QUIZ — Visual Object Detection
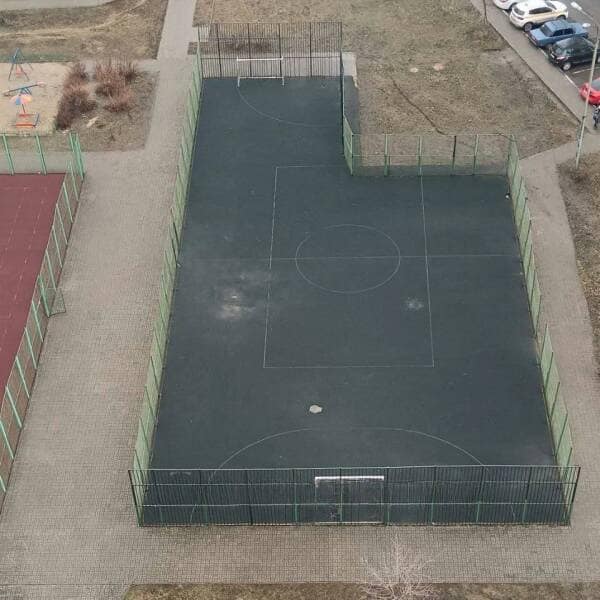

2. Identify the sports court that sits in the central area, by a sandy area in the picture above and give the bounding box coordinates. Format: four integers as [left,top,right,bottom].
[136,77,571,526]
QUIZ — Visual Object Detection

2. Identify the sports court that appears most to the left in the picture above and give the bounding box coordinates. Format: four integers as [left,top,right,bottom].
[0,172,84,508]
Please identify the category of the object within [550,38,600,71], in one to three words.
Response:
car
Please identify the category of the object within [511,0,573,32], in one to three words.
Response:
car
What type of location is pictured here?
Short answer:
sports ground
